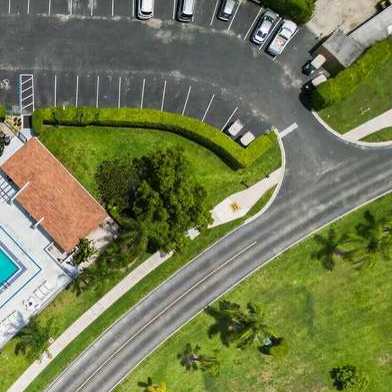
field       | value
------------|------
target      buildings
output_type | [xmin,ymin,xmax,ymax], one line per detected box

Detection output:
[2,136,109,253]
[312,0,392,74]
